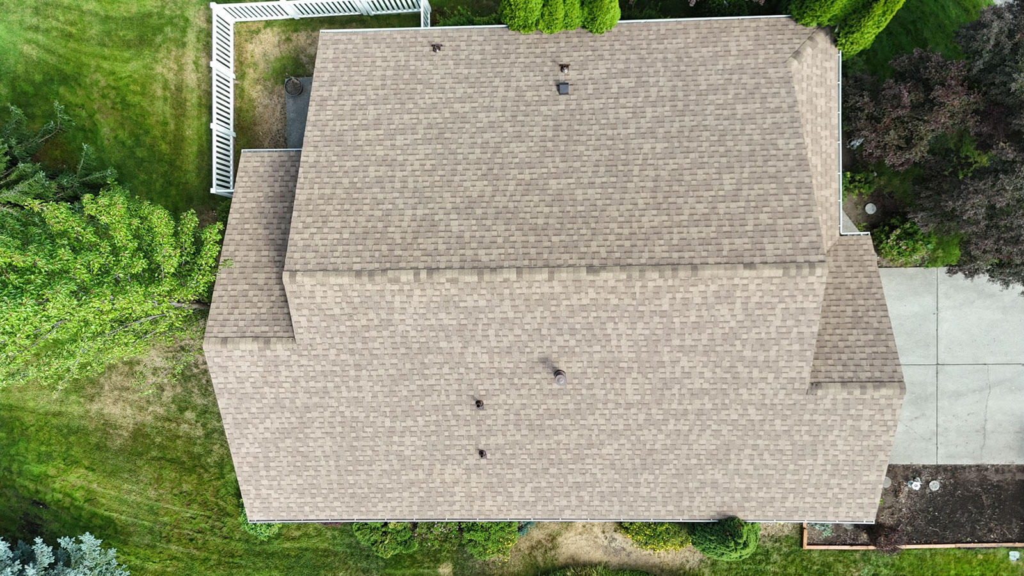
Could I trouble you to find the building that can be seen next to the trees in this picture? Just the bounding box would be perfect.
[208,14,905,526]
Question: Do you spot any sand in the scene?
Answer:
No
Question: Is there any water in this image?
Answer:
No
